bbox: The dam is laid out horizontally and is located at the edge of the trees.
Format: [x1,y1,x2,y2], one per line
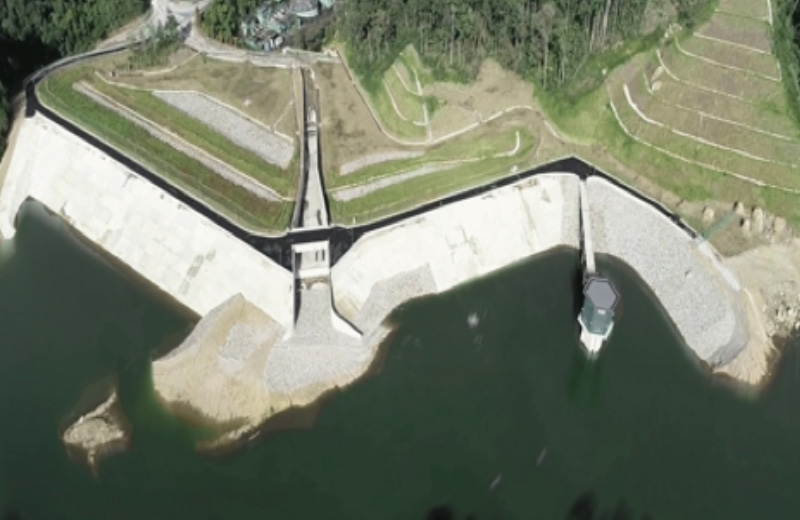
[0,72,748,369]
